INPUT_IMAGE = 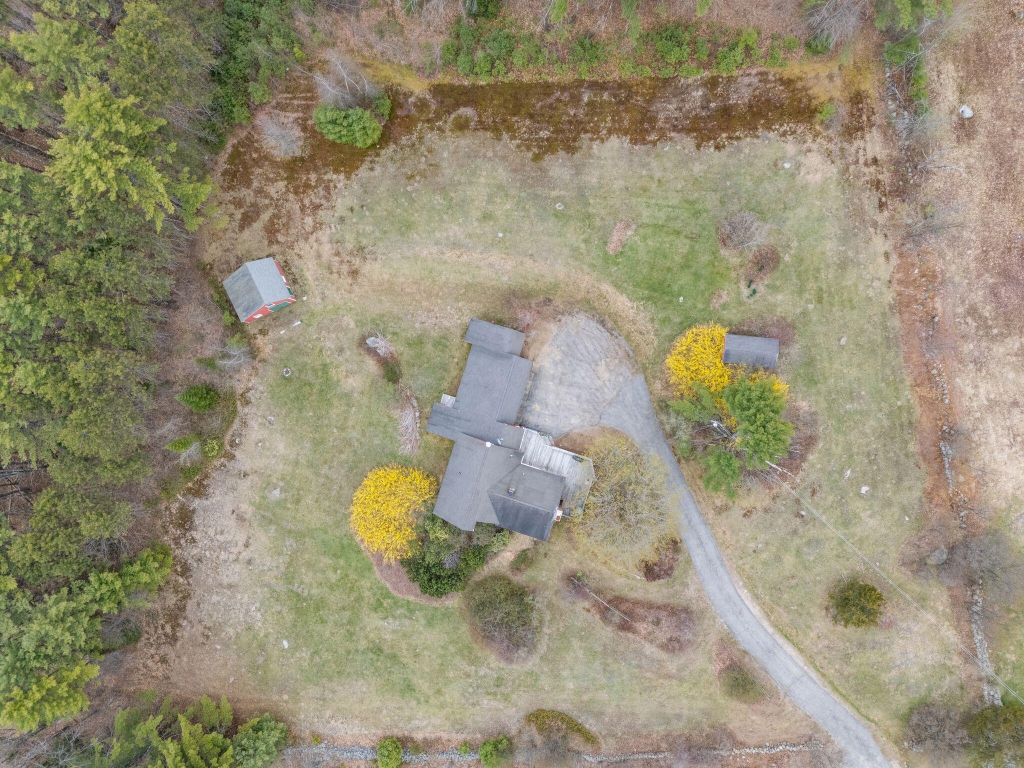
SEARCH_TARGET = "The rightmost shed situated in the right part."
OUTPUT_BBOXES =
[719,334,779,368]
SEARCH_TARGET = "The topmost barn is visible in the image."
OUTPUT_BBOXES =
[224,257,297,324]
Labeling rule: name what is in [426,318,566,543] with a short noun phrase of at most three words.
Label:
house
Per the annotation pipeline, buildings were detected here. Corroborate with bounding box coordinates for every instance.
[224,257,297,324]
[719,334,779,368]
[426,318,566,543]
